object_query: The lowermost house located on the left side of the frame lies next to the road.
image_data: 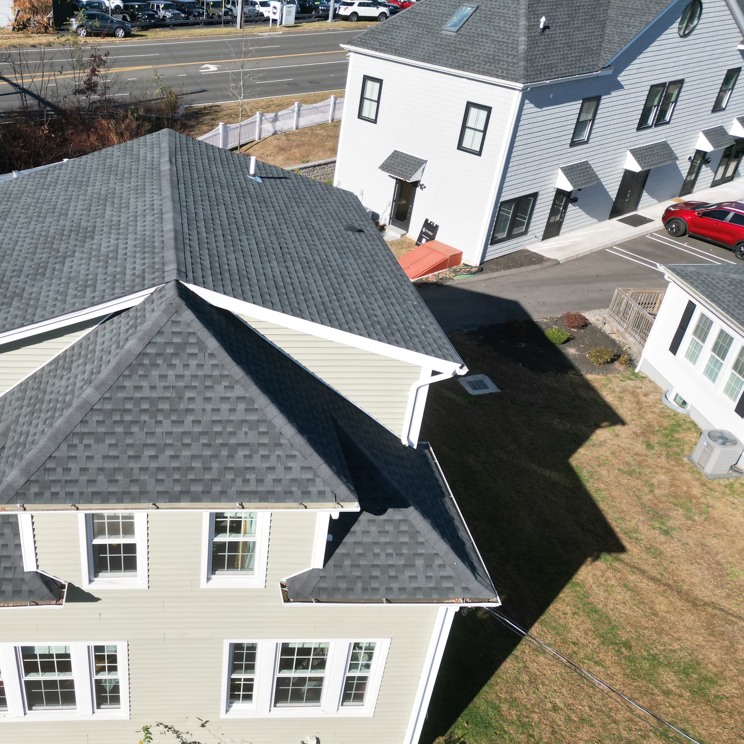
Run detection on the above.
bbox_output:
[0,127,503,744]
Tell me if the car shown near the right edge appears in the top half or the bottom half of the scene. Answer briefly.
top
